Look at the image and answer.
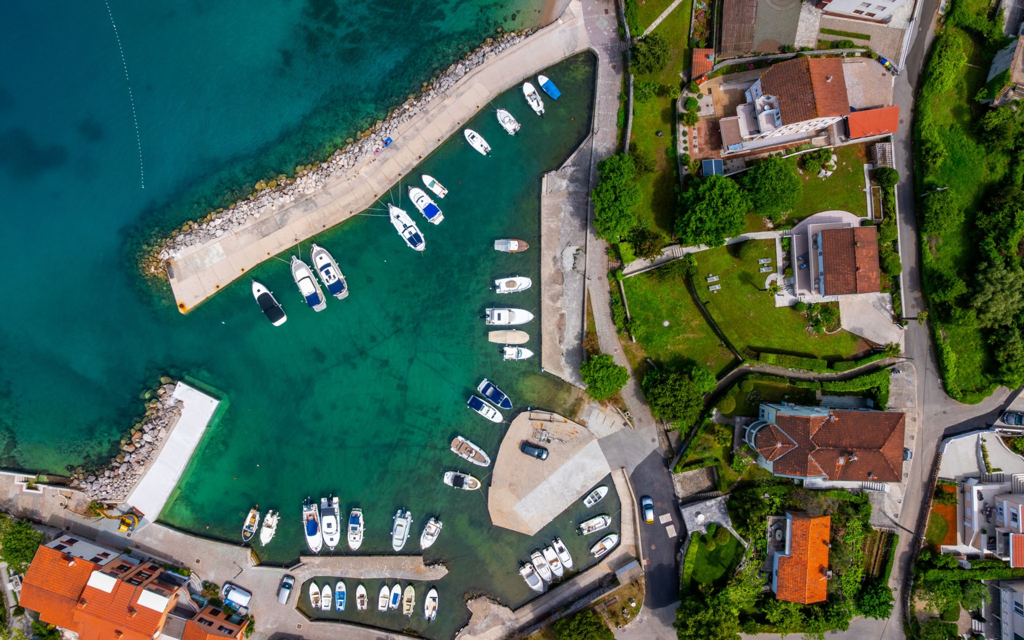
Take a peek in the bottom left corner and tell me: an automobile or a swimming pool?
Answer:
automobile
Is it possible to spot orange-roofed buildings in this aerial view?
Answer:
Yes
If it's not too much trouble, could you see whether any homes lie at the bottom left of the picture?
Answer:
Yes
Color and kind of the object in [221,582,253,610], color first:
white van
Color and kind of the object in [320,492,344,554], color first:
white boat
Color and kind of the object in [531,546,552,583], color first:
white boat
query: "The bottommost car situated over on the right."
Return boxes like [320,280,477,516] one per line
[639,495,653,524]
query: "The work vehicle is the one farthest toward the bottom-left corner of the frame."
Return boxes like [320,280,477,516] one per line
[95,504,146,533]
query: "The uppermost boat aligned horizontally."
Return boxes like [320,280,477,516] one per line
[493,237,529,253]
